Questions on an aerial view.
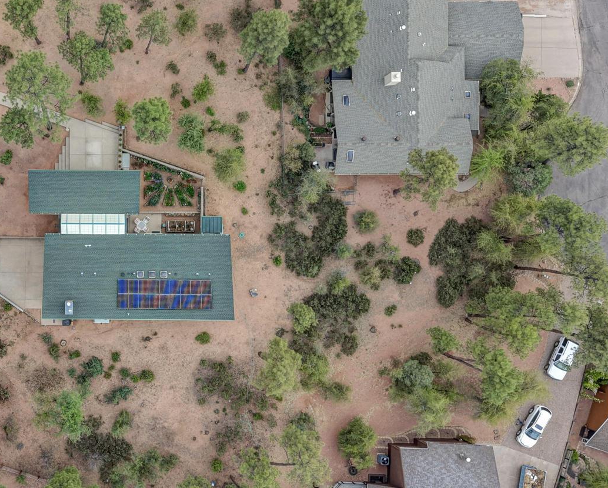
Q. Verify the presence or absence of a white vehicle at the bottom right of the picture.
Yes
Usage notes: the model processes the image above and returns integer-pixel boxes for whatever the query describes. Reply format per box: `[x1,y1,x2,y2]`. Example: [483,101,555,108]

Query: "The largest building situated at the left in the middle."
[28,169,235,321]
